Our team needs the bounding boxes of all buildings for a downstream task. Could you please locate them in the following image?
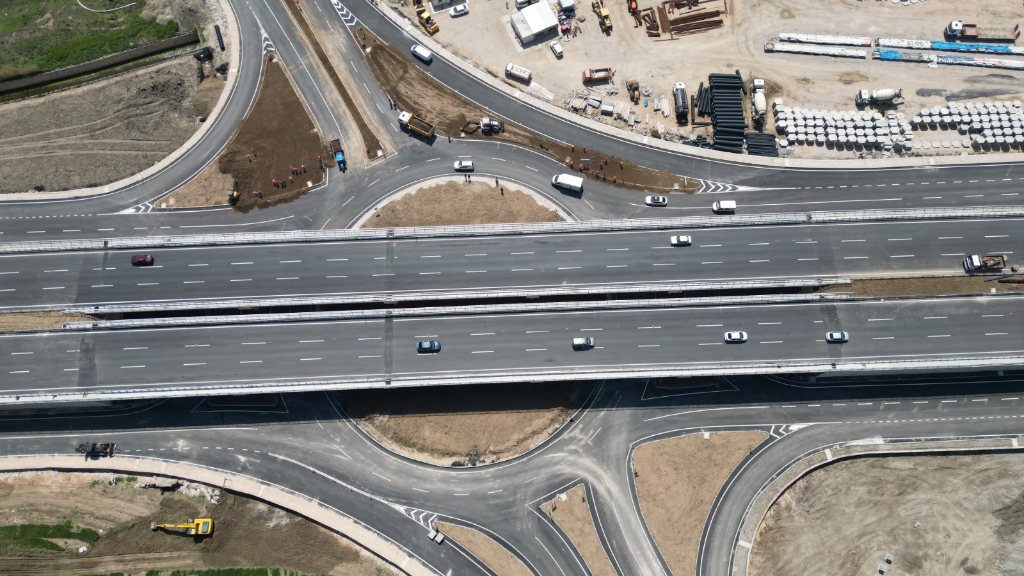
[430,0,469,13]
[506,0,561,54]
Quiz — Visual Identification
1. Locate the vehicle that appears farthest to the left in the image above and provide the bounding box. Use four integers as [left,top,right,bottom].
[76,443,123,457]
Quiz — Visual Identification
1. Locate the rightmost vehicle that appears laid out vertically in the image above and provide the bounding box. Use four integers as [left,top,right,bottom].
[751,84,767,123]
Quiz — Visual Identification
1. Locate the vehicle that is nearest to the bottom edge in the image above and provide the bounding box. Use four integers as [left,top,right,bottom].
[155,517,214,537]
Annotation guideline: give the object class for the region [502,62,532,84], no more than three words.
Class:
truck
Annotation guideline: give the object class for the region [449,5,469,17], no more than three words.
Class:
vehicle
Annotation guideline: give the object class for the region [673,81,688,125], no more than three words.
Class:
vehicle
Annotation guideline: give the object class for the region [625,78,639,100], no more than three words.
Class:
work vehicle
